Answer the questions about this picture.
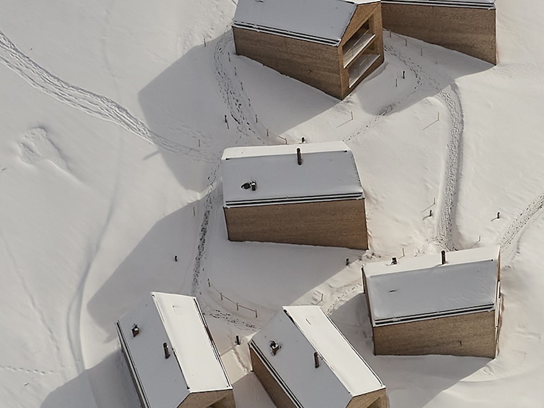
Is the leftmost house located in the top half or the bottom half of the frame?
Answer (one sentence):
Seen from above, the leftmost house lies in the bottom half of the view.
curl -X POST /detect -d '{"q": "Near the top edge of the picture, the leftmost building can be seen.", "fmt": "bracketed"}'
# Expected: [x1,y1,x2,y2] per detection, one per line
[233,0,382,98]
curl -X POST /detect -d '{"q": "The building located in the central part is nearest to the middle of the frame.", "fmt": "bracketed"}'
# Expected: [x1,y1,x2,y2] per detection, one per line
[221,140,368,248]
